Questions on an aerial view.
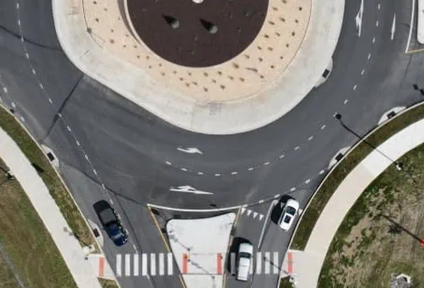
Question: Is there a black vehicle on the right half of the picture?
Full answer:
No, no black vehicle can be made out on the right half of the picture.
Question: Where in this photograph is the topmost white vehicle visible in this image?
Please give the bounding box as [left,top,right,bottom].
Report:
[278,196,300,233]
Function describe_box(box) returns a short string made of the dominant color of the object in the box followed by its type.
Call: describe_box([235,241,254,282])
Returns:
white vehicle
